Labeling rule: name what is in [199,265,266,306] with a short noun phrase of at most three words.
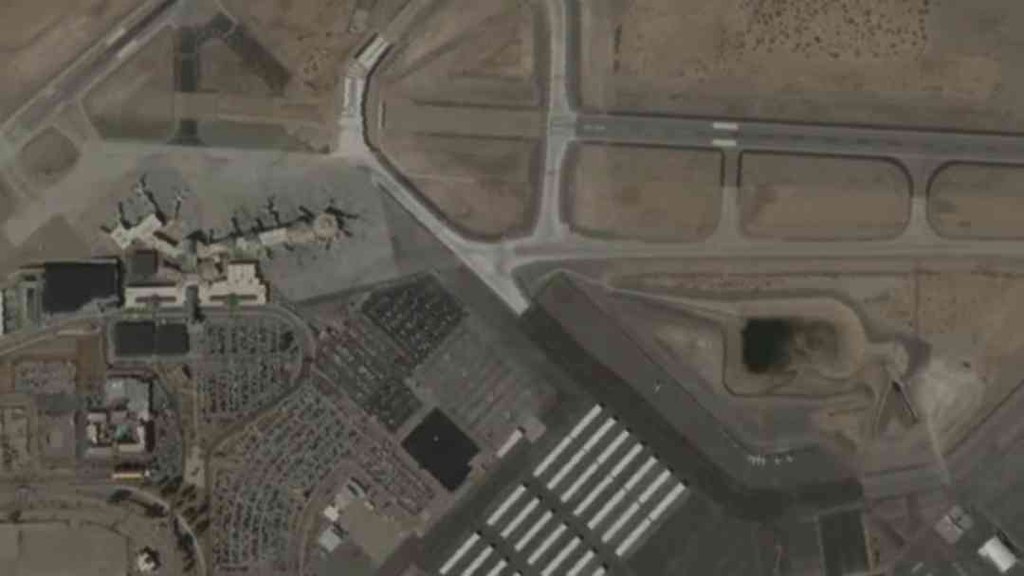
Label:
building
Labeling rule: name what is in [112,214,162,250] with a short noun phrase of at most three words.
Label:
building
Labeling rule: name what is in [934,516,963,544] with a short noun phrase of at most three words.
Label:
hangar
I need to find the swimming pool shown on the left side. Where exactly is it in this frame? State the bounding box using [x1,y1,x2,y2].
[114,424,131,439]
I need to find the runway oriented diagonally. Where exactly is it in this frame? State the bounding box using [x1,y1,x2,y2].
[0,0,189,162]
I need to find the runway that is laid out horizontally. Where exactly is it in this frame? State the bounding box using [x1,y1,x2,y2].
[576,113,1024,165]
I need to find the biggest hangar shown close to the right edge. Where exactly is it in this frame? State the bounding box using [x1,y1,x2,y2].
[979,537,1017,573]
